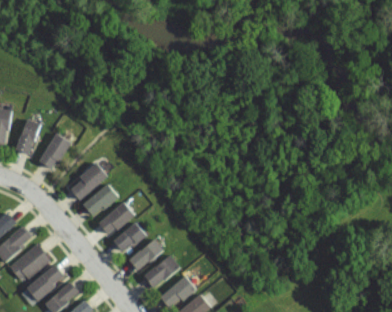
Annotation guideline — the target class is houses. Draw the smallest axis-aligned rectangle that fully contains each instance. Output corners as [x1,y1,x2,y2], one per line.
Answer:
[83,184,120,218]
[114,223,148,253]
[72,164,108,204]
[144,256,181,288]
[99,204,136,236]
[128,239,166,273]
[0,226,36,263]
[16,244,53,280]
[72,300,97,312]
[26,266,68,301]
[0,108,14,148]
[18,118,44,158]
[46,282,84,312]
[42,134,72,172]
[162,277,196,308]
[0,212,18,240]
